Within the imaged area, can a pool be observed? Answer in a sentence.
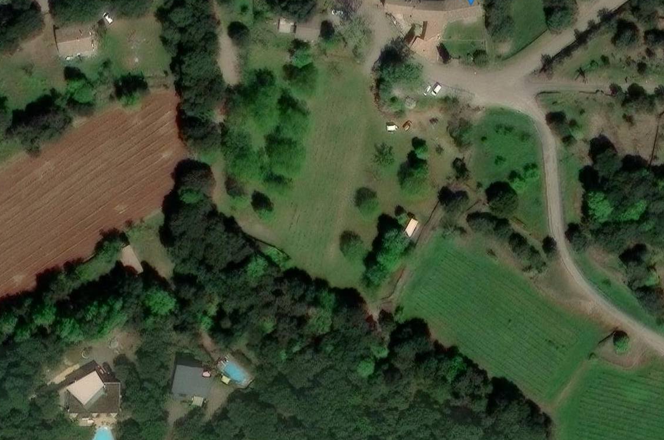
Yes, a pool is visible in the scene.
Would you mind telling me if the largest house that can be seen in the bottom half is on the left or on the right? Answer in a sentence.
The largest house that can be seen in the bottom half is on the left side of the image.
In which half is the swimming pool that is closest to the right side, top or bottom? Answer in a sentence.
The swimming pool that is closest to the right side is in the bottom half of the image.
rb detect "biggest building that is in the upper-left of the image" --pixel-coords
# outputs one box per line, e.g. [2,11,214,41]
[54,21,96,52]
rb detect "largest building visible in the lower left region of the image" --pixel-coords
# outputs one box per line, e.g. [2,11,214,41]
[64,371,120,419]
